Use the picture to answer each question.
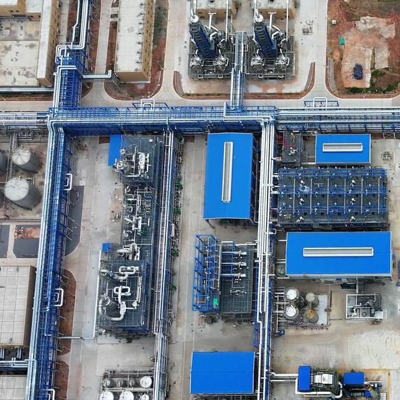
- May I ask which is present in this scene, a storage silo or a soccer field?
storage silo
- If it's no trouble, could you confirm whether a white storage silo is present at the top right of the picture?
No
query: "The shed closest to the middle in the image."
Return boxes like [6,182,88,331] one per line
[203,132,259,225]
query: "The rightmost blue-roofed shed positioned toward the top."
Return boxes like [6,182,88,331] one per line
[315,134,372,168]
